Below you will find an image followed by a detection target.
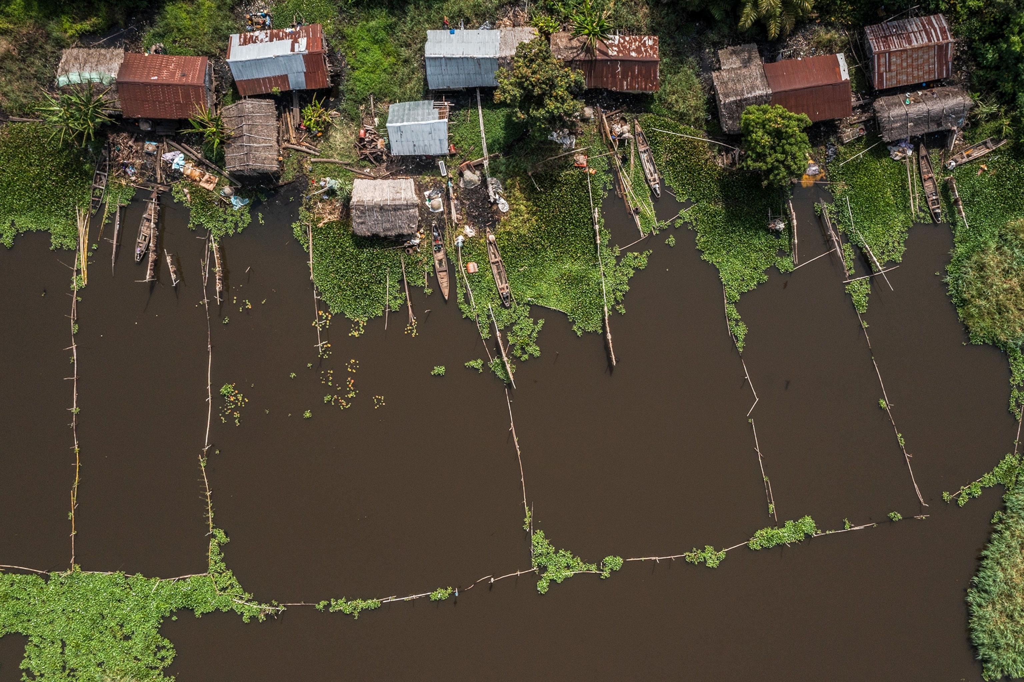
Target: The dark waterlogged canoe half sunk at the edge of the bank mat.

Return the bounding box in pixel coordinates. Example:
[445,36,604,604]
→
[90,141,109,217]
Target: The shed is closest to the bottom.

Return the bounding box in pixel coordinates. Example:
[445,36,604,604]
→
[349,175,420,239]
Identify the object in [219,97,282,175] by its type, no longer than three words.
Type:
shed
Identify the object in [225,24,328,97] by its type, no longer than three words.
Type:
shed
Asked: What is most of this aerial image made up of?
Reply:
water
